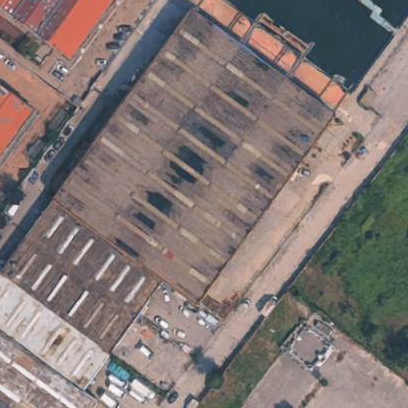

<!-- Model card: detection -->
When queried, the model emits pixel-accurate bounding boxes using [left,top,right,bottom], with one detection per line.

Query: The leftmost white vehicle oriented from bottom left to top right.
[9,203,22,220]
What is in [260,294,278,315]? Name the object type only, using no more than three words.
vehicle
